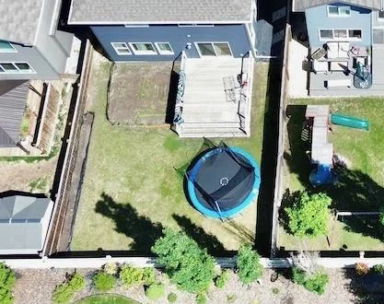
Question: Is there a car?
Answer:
No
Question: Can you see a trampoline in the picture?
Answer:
Yes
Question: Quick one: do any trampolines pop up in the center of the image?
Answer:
Yes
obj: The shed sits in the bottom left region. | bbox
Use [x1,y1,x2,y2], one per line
[0,192,52,253]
